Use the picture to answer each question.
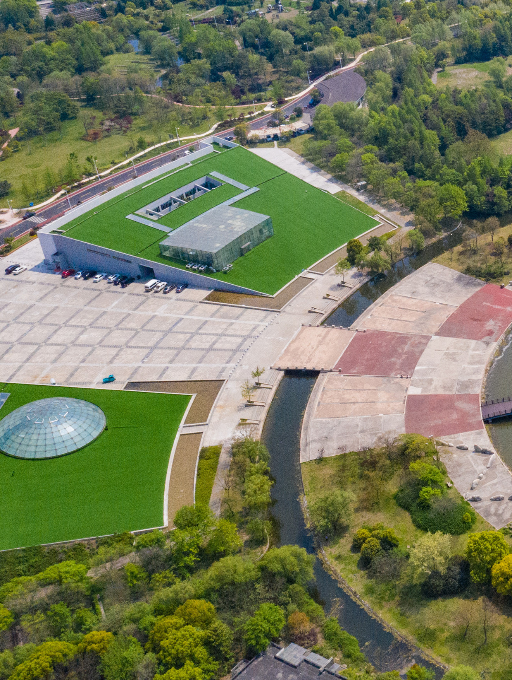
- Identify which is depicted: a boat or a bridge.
bridge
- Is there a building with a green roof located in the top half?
Yes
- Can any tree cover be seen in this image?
Yes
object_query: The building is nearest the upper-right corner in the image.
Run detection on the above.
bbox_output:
[314,69,368,109]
